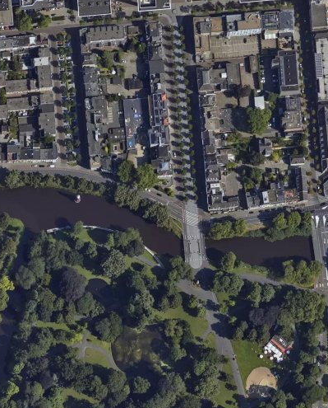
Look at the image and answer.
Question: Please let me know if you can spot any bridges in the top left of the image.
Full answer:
No, the scene shows no bridge in the top left of the image.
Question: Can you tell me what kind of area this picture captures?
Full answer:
What you see here is a residential area.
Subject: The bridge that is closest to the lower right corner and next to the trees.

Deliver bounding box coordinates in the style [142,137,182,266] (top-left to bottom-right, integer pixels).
[312,211,328,262]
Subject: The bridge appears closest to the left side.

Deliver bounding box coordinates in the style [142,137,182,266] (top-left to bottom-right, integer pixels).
[184,209,206,268]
